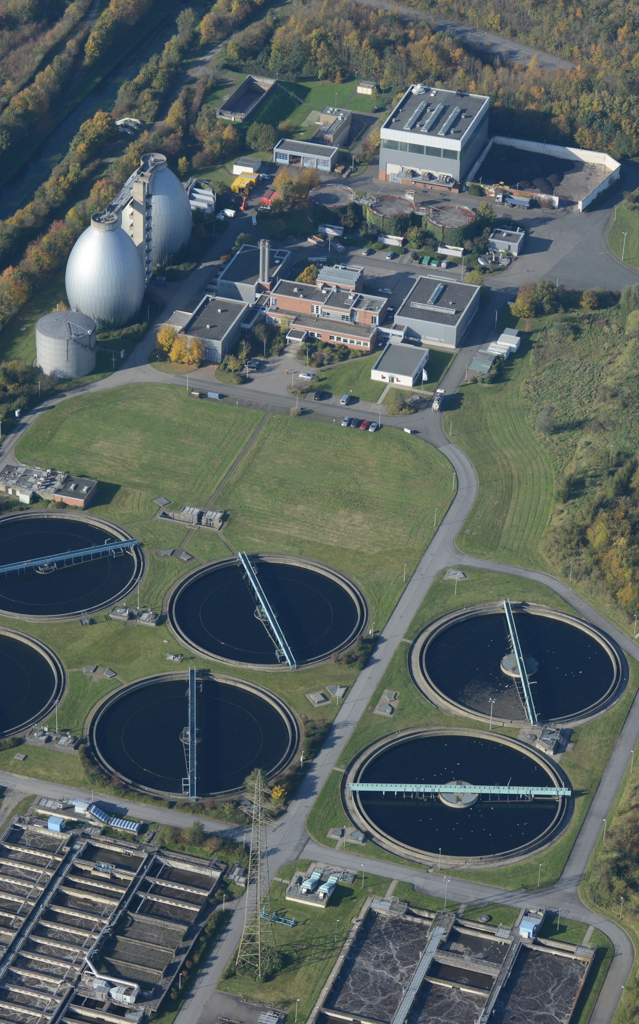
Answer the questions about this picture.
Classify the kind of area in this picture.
industrial area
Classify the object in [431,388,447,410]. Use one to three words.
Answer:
vehicle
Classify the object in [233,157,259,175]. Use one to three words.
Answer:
shed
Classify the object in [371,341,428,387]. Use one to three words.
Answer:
building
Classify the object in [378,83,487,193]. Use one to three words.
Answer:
building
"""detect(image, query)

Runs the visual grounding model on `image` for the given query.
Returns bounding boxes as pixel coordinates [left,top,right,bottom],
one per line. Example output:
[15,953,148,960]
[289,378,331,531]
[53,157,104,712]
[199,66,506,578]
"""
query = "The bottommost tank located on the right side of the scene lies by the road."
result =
[315,911,592,1024]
